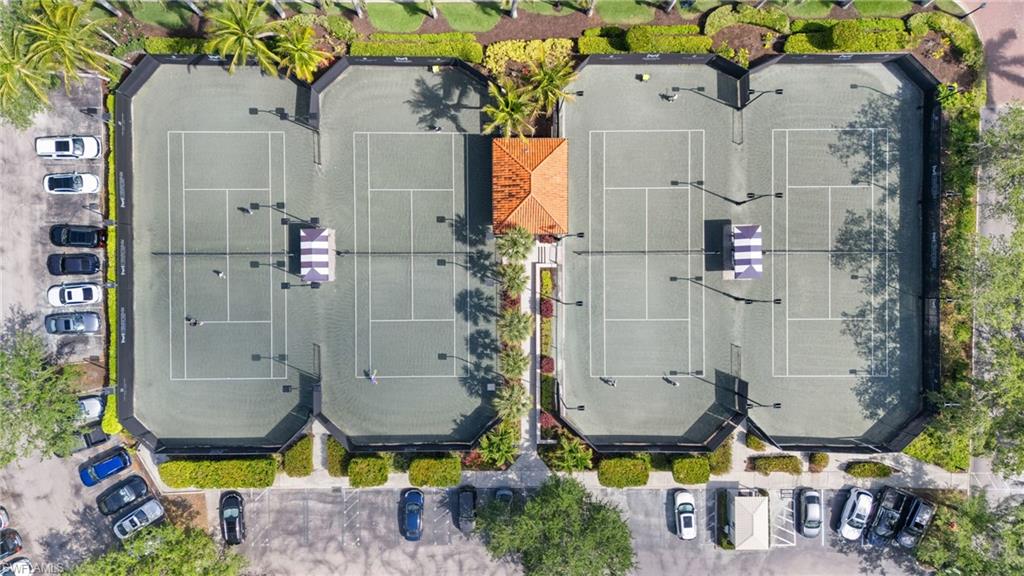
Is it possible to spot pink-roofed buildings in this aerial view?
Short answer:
No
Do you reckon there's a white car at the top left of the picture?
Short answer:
Yes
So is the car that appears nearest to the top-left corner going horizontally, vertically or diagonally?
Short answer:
horizontally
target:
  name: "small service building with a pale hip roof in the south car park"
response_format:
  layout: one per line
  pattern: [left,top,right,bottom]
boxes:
[729,492,769,550]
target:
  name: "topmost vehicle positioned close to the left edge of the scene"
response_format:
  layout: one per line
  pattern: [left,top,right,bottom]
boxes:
[35,134,102,160]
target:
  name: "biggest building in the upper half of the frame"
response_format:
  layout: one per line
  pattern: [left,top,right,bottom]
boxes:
[491,137,569,236]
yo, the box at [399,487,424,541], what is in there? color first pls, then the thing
blue car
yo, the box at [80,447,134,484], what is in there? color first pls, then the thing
blue car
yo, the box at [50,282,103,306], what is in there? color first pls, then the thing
white car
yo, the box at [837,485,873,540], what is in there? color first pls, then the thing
white car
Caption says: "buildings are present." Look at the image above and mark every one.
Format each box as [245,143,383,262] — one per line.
[729,492,769,550]
[491,137,569,236]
